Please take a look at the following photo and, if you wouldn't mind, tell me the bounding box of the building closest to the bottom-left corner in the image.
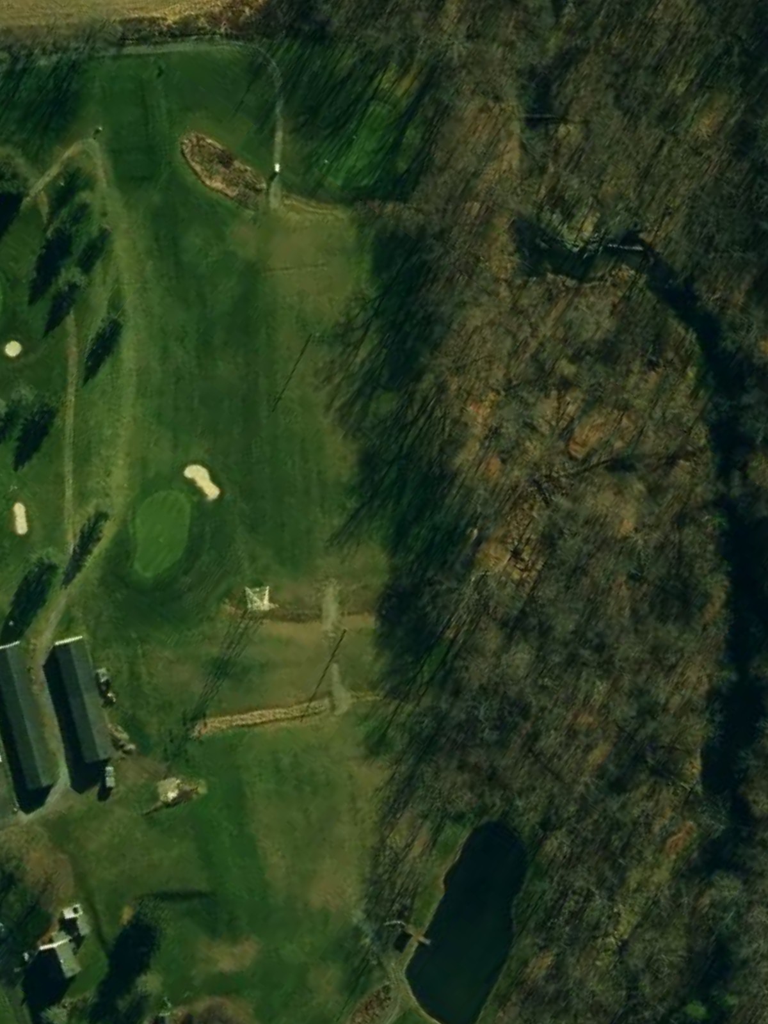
[42,929,84,981]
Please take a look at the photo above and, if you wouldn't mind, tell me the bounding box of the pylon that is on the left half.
[244,585,275,612]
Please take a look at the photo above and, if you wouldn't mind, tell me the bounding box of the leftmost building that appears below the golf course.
[0,646,59,793]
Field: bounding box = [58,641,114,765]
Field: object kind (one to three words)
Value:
barn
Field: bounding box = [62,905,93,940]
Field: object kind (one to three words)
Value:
house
